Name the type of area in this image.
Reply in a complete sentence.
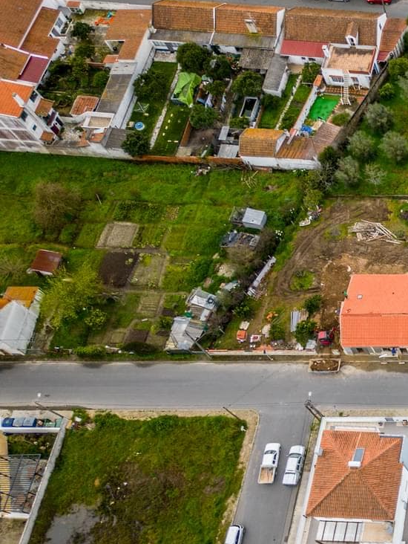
What you see here is a residential area.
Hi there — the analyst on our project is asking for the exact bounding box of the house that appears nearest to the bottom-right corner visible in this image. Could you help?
[306,426,408,544]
